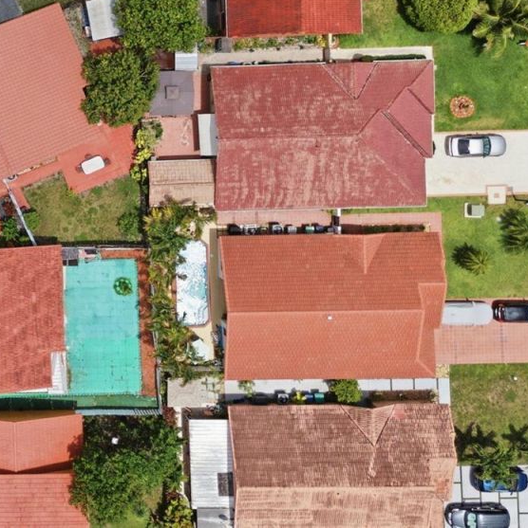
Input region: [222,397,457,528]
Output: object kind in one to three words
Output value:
house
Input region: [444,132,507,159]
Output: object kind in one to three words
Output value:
car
